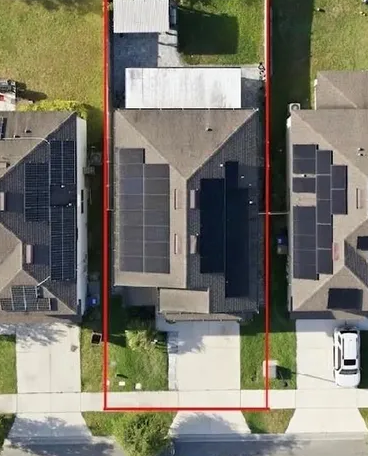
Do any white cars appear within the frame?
Yes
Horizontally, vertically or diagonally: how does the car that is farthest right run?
vertically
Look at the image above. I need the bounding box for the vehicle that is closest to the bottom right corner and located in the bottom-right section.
[332,326,363,389]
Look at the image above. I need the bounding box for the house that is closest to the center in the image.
[112,108,260,320]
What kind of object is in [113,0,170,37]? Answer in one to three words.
shed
